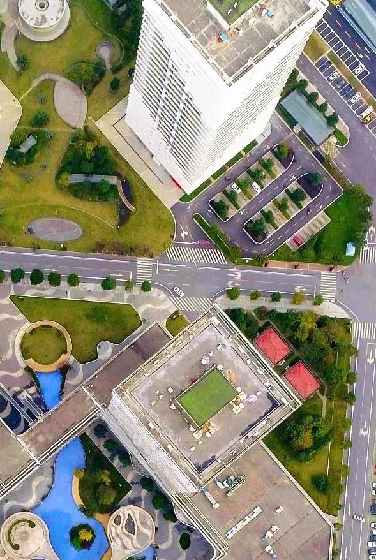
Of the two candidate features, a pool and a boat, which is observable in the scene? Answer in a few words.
pool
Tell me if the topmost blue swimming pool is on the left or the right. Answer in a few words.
left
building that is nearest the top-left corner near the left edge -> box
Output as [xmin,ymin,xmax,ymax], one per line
[13,0,71,44]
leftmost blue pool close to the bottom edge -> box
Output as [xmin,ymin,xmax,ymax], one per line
[30,440,110,560]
